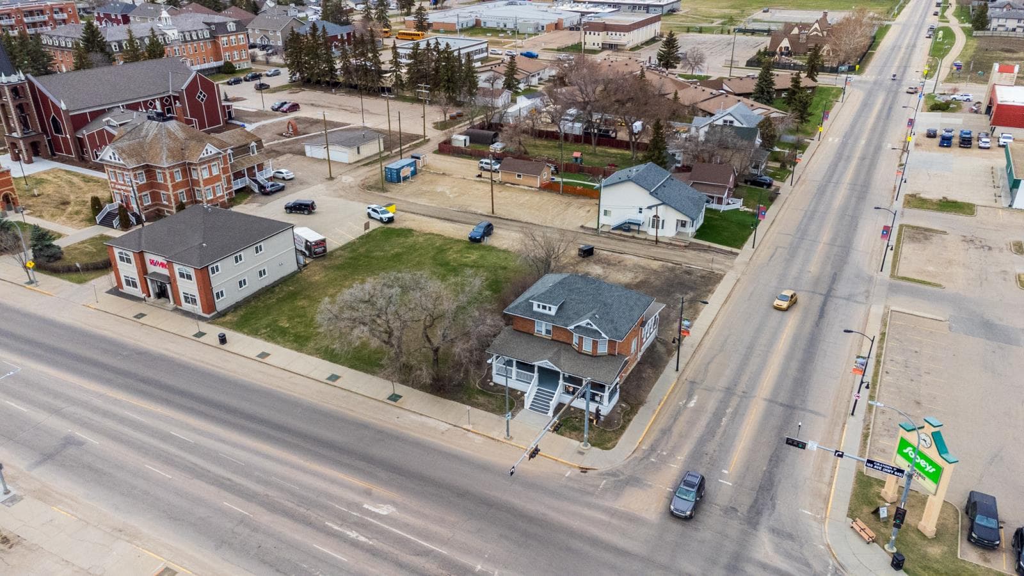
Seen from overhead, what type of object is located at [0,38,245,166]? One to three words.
church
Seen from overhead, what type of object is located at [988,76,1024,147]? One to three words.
building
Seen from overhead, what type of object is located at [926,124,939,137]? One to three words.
vehicle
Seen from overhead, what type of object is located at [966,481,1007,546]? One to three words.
vehicle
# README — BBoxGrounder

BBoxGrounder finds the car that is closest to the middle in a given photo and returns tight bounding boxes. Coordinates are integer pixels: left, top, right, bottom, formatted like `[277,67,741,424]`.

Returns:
[467,218,497,239]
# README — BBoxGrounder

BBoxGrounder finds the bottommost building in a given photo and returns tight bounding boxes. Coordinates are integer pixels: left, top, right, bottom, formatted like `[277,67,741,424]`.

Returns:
[482,271,675,420]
